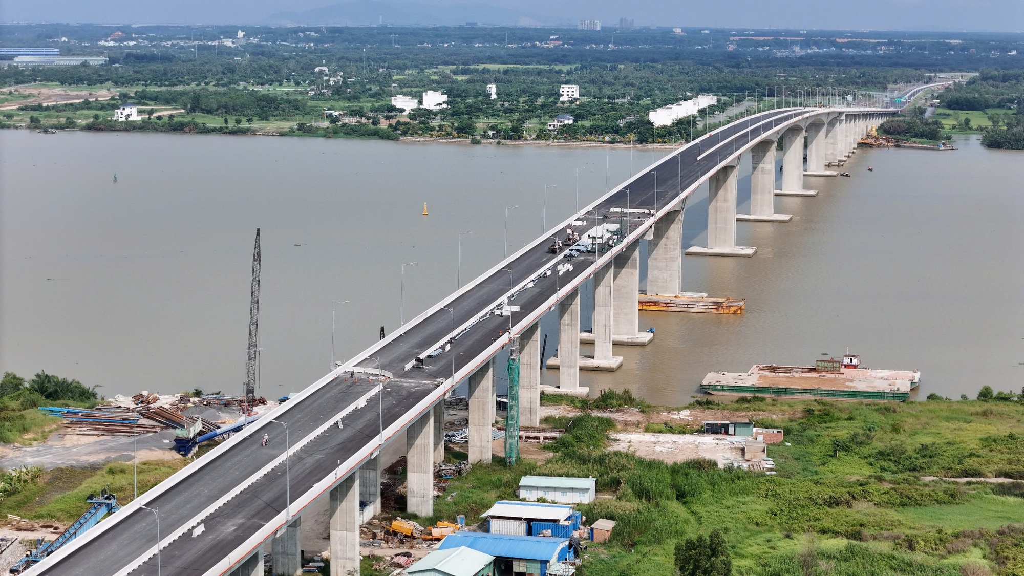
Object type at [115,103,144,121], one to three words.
house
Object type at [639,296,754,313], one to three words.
ship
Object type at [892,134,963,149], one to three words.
ship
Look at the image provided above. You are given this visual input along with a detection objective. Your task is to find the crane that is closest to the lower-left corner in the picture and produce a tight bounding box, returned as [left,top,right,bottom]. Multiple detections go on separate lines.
[238,226,261,417]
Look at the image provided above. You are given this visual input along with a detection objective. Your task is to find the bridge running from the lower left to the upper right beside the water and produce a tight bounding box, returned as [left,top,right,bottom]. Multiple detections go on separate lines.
[17,107,900,576]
